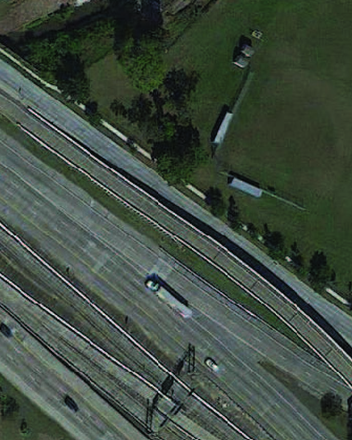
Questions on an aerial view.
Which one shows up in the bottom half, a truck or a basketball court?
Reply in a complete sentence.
What appears in the bottom half is a truck.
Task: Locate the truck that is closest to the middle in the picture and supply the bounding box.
[145,279,193,318]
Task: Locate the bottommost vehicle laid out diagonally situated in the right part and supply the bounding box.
[204,357,221,372]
